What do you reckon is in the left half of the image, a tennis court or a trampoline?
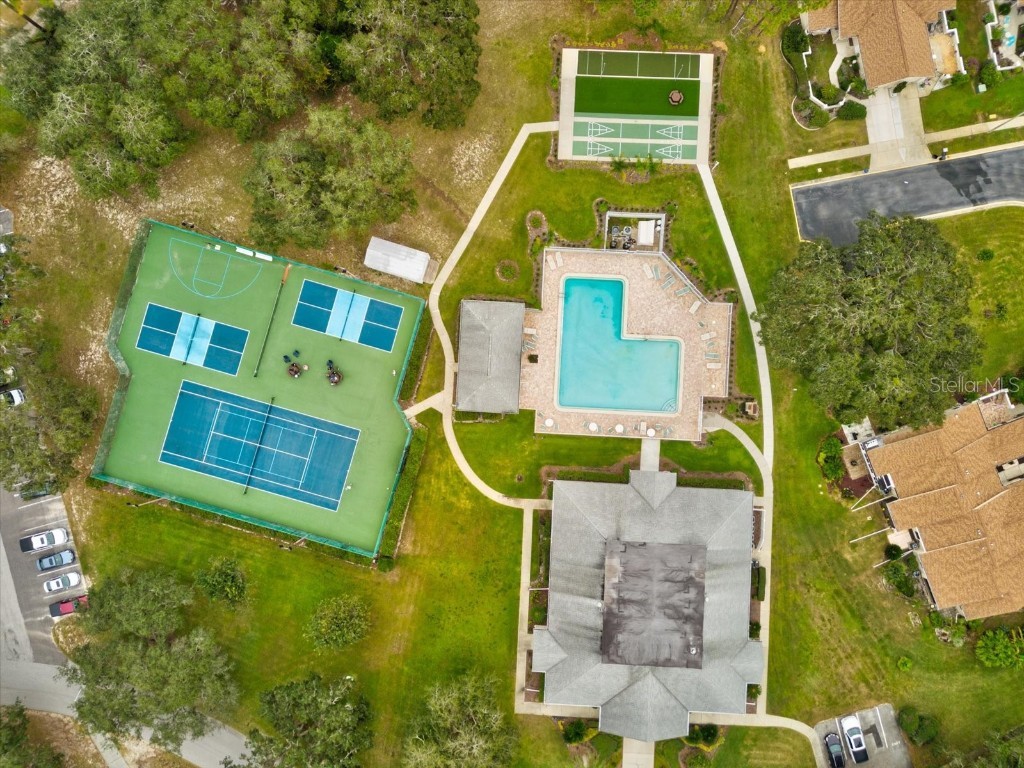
tennis court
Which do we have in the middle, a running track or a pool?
pool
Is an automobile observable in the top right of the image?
No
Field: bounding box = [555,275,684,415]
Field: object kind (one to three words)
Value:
swimming pool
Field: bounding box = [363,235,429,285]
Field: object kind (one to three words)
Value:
shed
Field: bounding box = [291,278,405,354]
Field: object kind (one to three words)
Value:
sports court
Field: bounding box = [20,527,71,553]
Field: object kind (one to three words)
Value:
truck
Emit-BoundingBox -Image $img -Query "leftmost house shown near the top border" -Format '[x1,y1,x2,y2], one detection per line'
[799,0,956,94]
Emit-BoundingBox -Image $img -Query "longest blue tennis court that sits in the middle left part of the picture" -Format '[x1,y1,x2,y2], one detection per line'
[159,380,361,512]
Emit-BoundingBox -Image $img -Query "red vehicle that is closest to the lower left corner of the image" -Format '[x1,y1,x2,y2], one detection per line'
[48,592,93,618]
